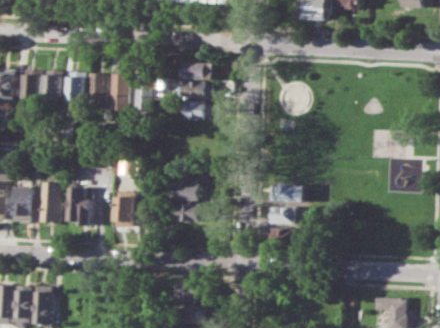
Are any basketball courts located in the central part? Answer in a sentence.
No, in the central part there is no basketball court.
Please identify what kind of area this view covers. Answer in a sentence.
What you see here is a residential area.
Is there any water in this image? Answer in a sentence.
No, there is no water in the image.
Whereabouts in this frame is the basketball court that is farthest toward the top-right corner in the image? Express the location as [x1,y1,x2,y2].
[372,130,414,159]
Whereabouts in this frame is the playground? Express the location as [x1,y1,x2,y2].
[388,159,423,192]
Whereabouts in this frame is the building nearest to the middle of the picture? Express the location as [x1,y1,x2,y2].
[176,185,203,202]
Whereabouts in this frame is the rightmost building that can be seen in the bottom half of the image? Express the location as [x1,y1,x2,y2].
[377,296,410,328]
